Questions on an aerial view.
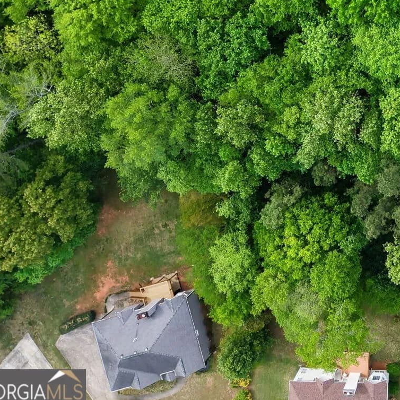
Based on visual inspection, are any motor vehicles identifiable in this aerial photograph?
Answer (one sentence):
No, the photo shows no motor vehicle.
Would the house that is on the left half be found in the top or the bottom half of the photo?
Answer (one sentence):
The house that is on the left half is in the bottom half of the image.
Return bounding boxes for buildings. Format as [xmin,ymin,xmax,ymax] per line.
[289,359,393,400]
[91,291,210,392]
